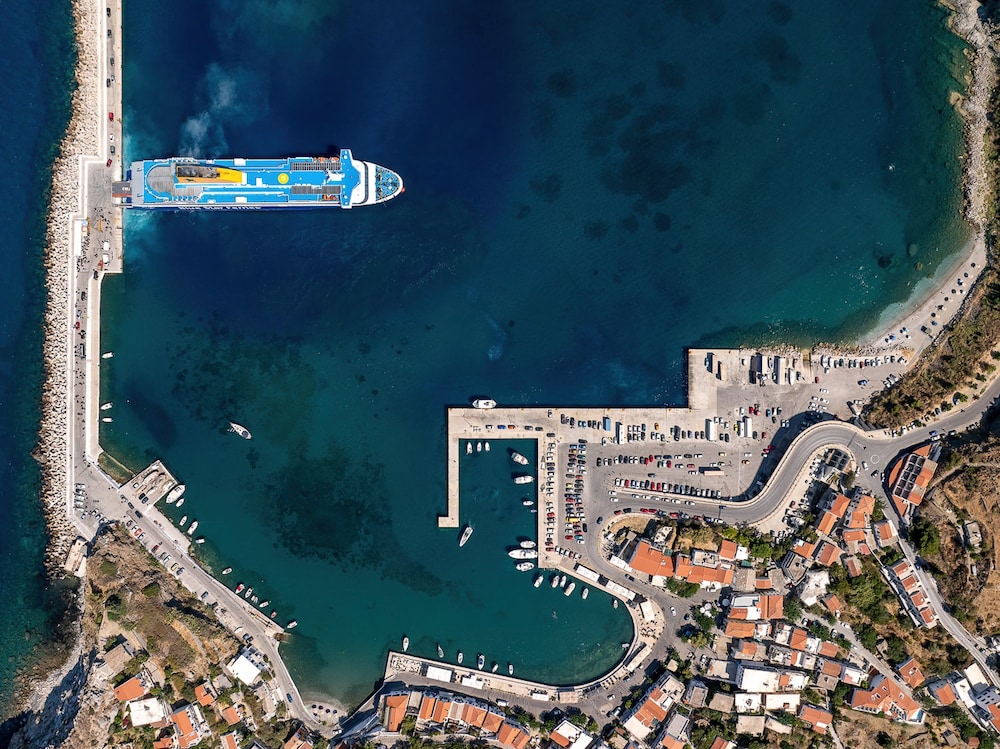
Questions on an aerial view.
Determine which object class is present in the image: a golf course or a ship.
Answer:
ship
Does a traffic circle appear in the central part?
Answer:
No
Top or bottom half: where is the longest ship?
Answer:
top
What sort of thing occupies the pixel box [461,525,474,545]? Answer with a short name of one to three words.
boat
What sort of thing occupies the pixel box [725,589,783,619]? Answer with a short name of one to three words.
building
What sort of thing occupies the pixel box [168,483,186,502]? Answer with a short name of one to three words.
boat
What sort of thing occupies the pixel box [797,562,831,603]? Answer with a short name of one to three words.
house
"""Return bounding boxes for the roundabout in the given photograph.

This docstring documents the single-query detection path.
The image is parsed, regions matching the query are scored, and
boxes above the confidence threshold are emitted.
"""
[852,439,896,484]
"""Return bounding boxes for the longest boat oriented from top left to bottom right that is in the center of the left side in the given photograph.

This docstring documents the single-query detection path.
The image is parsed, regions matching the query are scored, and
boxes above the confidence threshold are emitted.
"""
[229,424,251,439]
